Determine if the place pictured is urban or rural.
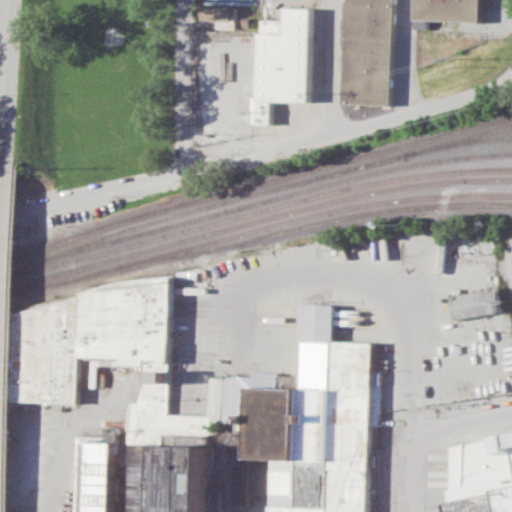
urban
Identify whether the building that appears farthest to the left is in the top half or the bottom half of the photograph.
bottom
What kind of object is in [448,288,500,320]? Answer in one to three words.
shed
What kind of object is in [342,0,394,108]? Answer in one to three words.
building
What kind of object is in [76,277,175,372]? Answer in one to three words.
building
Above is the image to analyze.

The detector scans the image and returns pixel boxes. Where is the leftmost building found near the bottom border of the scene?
[74,434,113,512]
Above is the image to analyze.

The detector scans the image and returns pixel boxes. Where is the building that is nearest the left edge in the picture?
[18,296,82,404]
